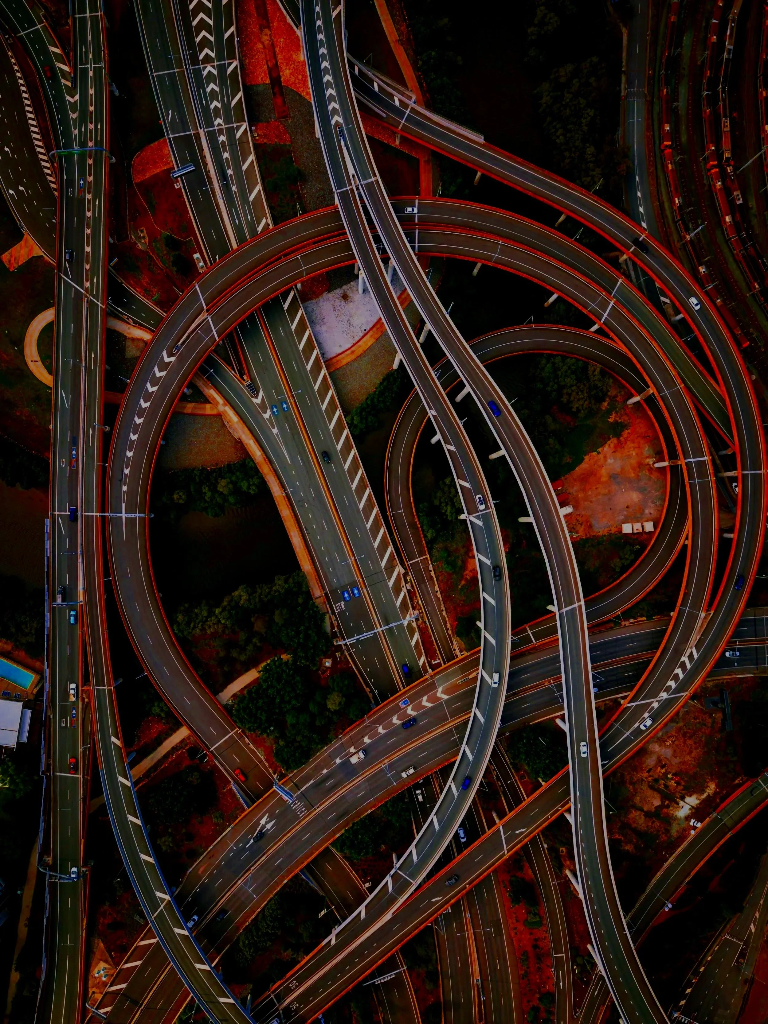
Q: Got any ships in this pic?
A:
No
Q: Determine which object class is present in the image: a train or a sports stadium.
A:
train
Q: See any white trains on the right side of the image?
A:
No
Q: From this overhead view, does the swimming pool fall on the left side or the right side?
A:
left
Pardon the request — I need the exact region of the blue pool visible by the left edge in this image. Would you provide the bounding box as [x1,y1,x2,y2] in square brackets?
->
[0,657,35,690]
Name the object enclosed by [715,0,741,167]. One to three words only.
train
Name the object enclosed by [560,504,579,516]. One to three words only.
vehicle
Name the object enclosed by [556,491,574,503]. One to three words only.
vehicle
